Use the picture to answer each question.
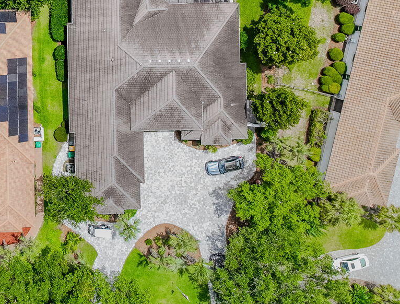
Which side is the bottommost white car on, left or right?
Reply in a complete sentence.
The bottommost white car sits on the right side.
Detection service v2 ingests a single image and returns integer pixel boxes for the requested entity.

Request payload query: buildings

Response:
[0,9,36,233]
[313,0,400,207]
[65,0,248,215]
